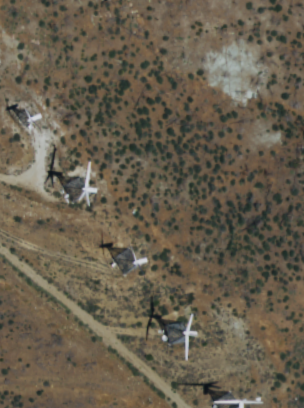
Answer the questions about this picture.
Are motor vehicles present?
No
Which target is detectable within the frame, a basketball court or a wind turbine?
wind turbine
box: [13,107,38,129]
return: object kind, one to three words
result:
wind turbine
